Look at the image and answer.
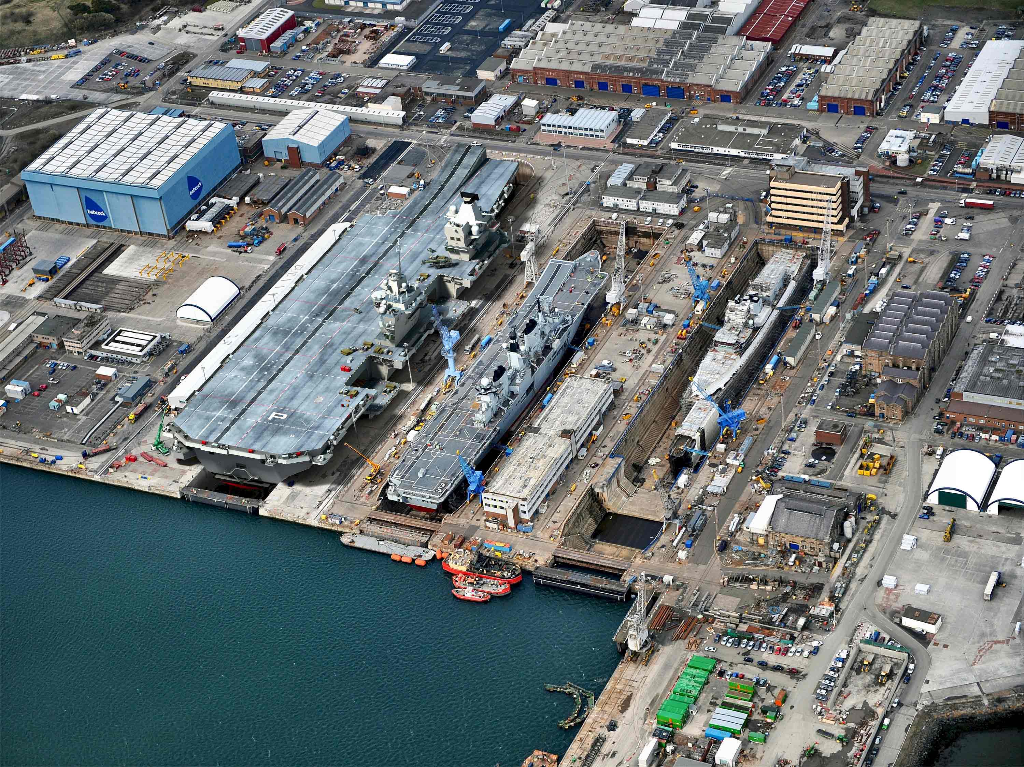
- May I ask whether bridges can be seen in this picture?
Yes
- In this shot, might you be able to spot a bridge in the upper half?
No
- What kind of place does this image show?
port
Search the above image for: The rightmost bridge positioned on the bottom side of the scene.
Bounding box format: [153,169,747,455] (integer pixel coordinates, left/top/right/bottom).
[548,542,646,586]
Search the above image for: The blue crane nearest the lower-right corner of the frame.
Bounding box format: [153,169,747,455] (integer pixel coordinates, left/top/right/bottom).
[689,377,740,443]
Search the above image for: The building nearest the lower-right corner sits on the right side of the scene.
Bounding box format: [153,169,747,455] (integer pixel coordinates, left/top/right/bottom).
[902,604,941,629]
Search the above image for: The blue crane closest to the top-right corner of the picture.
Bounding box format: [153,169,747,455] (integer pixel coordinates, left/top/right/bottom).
[684,252,710,309]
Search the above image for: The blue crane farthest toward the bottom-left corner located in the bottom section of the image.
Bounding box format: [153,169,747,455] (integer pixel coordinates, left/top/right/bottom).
[456,450,484,508]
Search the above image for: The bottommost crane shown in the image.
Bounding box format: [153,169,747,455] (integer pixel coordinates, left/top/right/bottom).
[620,570,649,670]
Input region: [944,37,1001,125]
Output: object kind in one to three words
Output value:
shed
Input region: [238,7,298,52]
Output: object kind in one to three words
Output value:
building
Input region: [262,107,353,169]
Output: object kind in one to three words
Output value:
hangar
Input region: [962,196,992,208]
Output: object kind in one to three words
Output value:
vehicle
